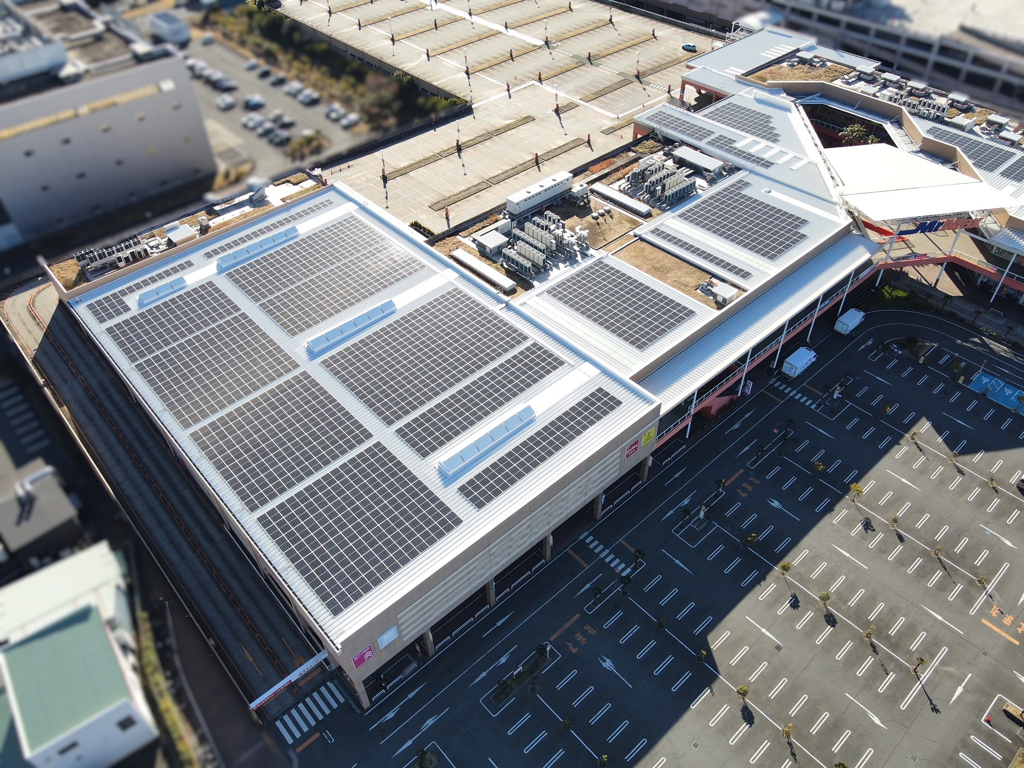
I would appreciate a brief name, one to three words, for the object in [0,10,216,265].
building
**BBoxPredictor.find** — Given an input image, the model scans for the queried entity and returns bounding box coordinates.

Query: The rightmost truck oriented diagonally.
[836,301,870,332]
